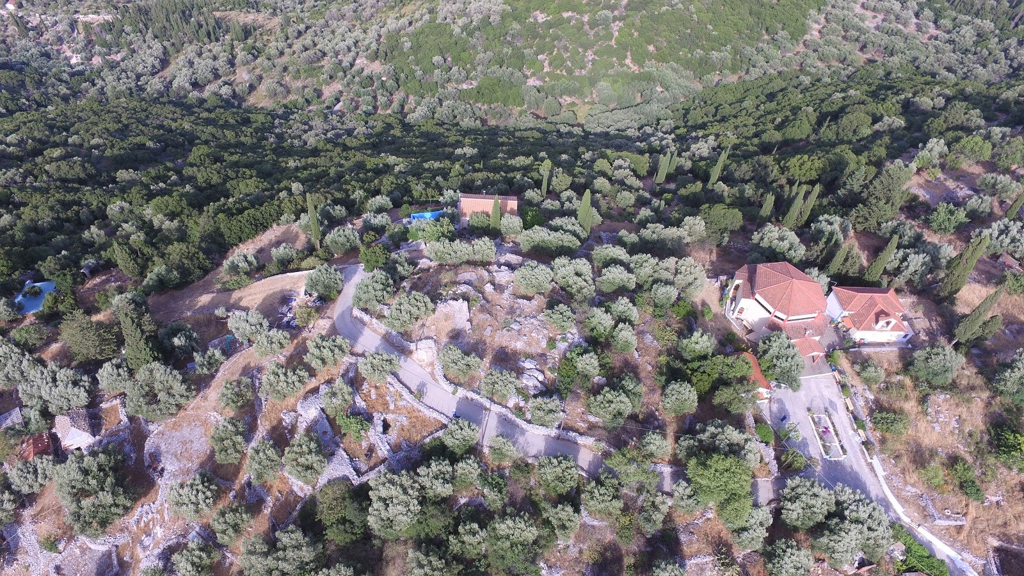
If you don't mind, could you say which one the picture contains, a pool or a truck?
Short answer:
pool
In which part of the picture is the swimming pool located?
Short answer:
left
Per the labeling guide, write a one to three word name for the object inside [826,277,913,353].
house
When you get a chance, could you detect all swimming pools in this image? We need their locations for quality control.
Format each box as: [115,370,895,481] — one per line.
[13,280,61,305]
